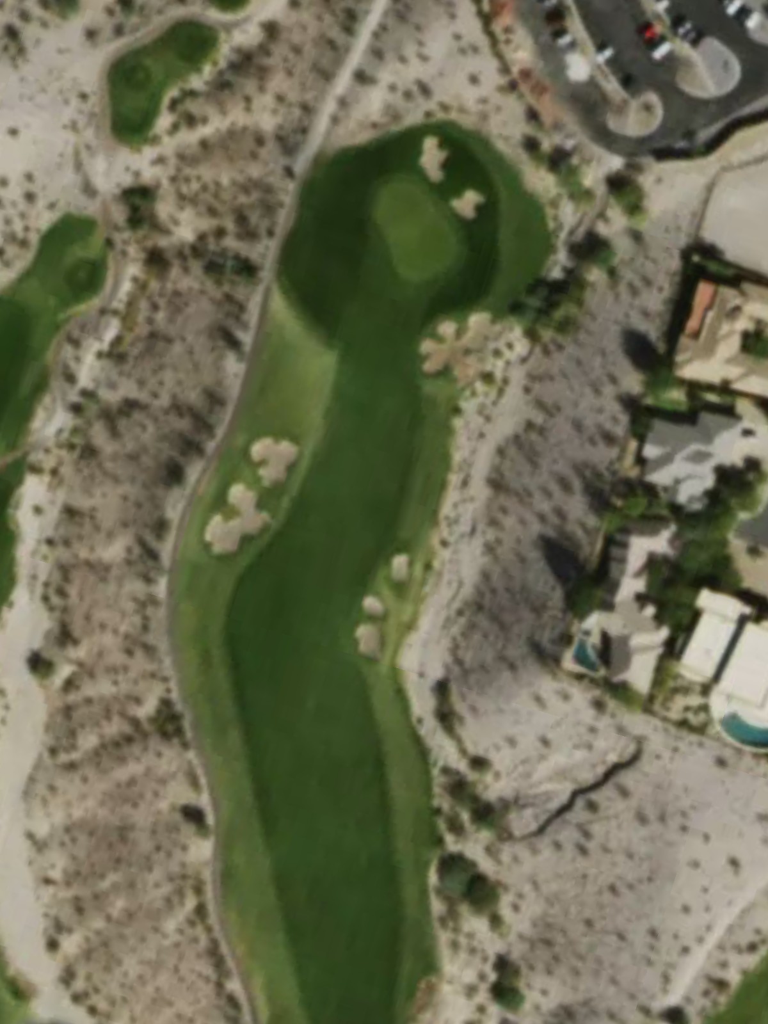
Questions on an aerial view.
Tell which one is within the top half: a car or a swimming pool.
car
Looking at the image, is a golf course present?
Yes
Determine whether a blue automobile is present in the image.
No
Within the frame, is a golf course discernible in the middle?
Yes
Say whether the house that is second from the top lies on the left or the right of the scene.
right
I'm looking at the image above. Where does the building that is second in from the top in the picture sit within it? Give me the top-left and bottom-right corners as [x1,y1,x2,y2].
[644,410,748,511]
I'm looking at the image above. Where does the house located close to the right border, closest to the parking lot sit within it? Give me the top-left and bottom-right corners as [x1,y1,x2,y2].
[680,278,768,398]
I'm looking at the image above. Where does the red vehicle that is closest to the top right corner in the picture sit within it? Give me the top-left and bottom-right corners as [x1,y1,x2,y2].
[639,23,659,38]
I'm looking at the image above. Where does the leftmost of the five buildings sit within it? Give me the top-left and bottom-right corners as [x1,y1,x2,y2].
[598,514,679,698]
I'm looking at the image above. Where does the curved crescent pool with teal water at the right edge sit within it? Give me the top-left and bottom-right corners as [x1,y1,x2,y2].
[722,710,768,753]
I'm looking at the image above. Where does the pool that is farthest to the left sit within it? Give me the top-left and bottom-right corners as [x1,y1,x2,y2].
[572,637,602,674]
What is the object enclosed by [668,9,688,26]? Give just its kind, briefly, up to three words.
car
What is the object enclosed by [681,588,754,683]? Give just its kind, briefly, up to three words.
house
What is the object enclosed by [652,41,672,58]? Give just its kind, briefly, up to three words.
car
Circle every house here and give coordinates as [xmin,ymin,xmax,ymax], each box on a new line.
[680,278,768,398]
[644,410,748,511]
[721,623,768,708]
[681,588,754,683]
[598,514,679,698]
